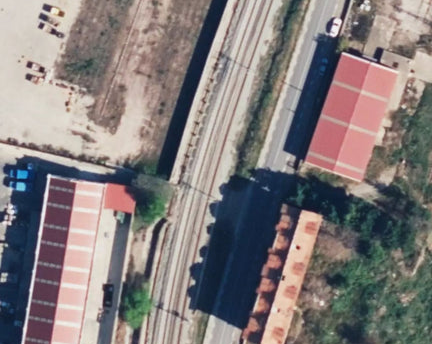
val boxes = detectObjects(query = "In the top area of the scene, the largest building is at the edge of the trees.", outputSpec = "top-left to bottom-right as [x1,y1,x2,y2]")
[304,52,397,183]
